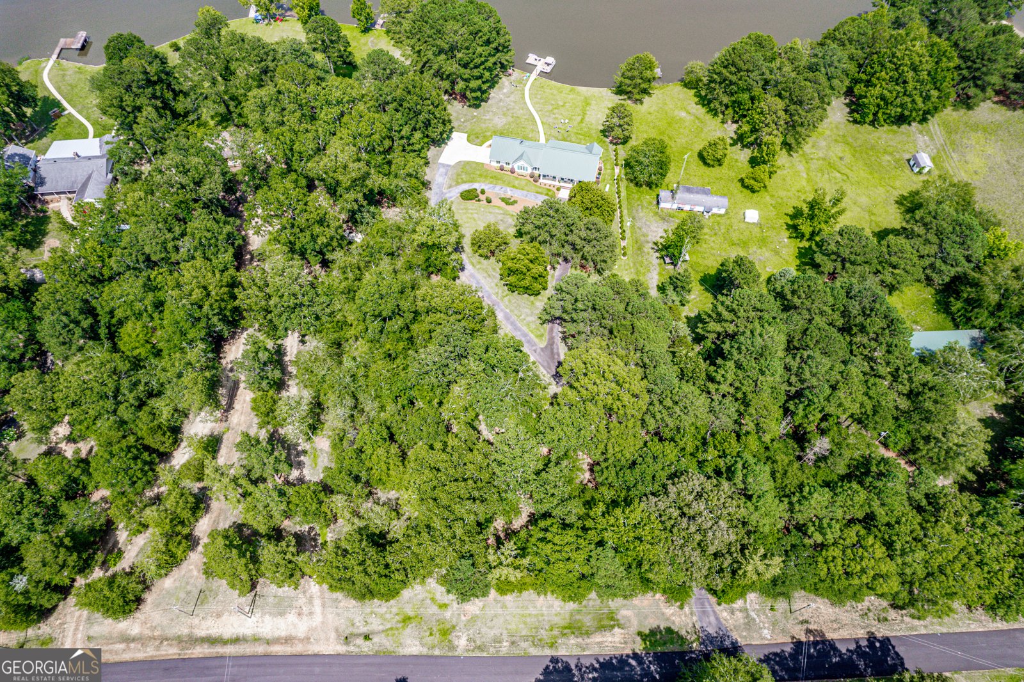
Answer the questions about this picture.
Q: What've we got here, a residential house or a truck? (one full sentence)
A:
It is a residential house that can be seen here.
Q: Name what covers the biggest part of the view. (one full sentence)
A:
Most of the picture is covered by trees.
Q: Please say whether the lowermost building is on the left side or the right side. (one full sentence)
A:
It is on the right.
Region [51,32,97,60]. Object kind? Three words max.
pier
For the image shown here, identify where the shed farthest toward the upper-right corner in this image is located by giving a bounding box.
[909,152,933,173]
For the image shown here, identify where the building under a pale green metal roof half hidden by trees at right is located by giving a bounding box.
[899,326,982,358]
